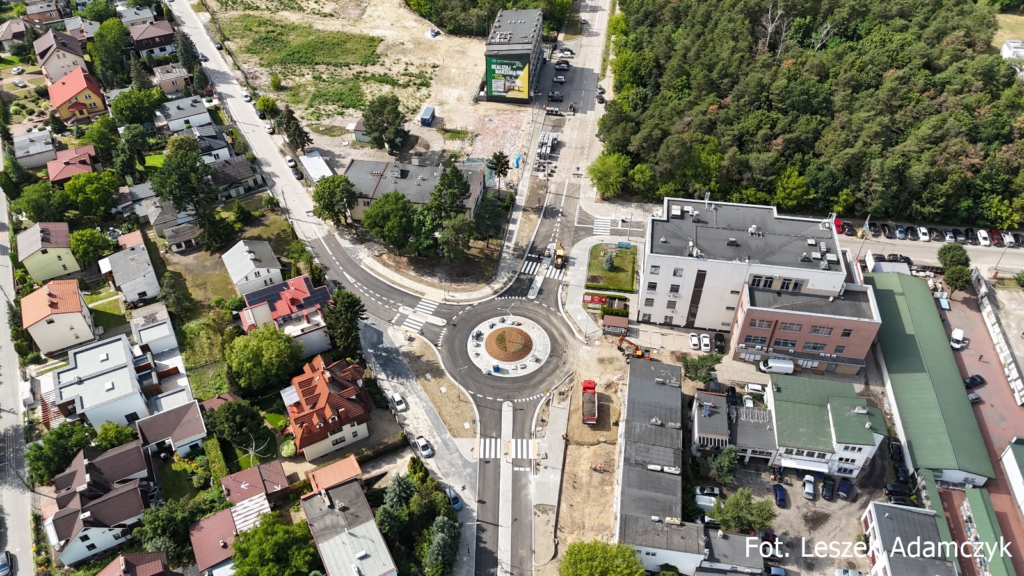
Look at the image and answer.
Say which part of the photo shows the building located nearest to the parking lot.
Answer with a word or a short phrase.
top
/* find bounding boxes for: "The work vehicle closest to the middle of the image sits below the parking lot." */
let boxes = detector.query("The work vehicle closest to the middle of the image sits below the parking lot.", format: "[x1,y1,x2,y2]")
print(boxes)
[553,240,565,272]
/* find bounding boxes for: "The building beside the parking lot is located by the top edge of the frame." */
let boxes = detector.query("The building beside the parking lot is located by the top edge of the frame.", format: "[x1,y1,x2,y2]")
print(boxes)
[479,7,537,104]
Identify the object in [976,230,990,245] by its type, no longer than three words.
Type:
car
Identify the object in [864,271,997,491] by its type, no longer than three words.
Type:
building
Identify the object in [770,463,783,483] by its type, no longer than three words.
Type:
vehicle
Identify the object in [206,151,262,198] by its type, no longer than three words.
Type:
house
